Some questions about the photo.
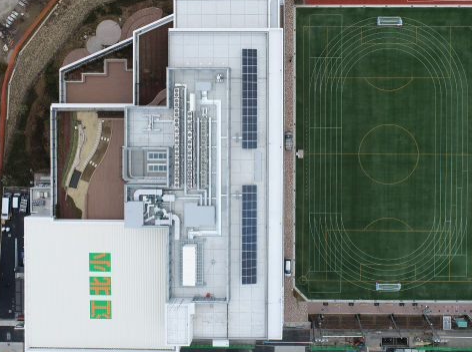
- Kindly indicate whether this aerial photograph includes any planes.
No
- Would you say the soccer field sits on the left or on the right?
right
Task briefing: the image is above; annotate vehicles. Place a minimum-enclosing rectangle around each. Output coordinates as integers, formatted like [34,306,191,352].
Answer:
[285,258,293,275]
[285,131,293,150]
[344,337,367,348]
[10,188,21,207]
[0,190,15,218]
[17,192,29,215]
